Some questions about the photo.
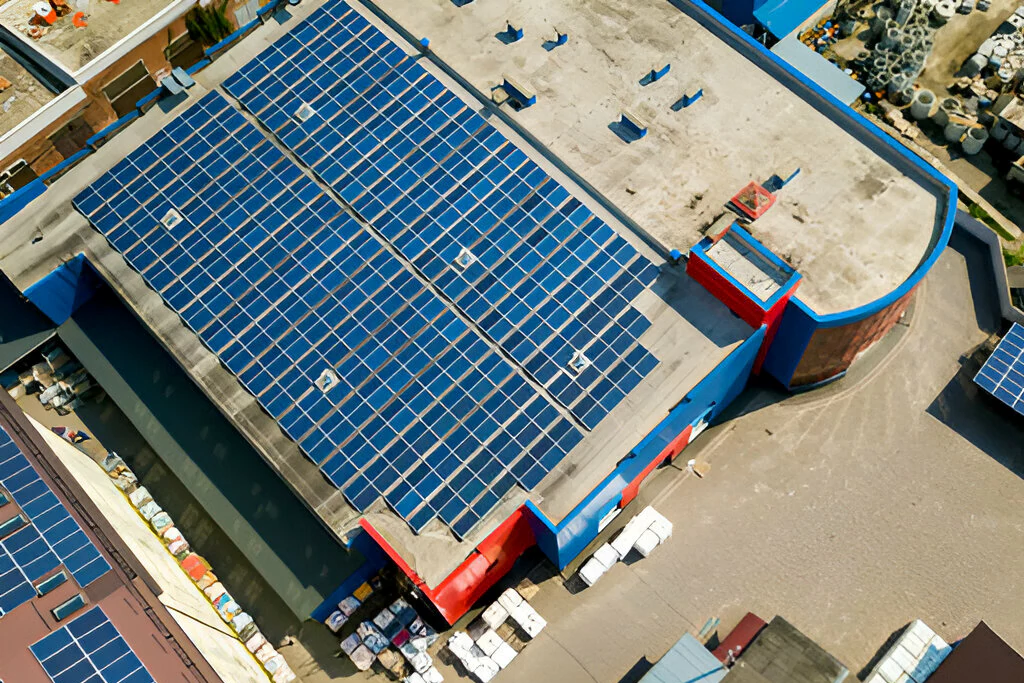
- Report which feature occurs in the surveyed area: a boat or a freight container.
freight container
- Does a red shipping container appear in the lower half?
Yes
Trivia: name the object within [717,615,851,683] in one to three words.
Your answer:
shed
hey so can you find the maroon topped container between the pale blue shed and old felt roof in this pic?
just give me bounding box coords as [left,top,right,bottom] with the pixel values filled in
[711,612,768,667]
